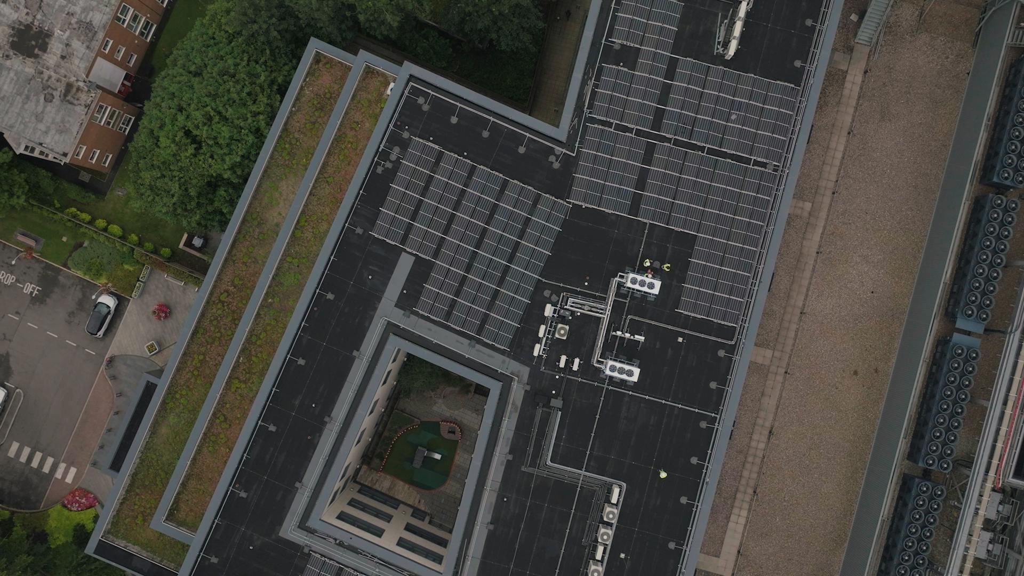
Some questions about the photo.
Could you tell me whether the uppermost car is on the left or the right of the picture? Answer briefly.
left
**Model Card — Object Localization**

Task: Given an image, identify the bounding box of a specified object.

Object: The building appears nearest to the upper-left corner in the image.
[0,0,167,172]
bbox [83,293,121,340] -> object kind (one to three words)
car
